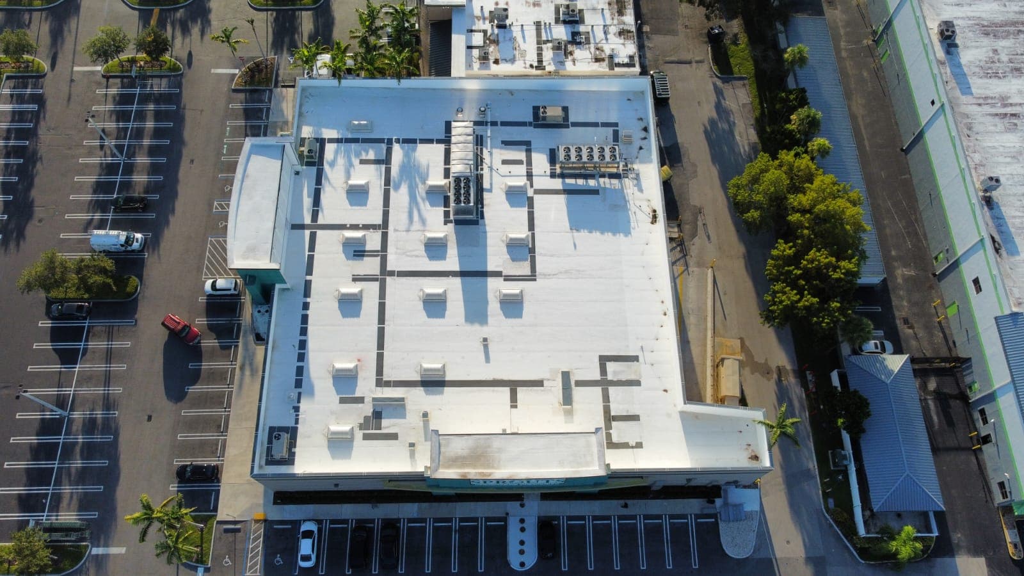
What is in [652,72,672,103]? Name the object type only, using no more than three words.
vehicle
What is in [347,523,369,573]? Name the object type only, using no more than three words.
car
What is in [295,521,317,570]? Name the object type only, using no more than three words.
car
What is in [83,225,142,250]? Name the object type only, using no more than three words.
vehicle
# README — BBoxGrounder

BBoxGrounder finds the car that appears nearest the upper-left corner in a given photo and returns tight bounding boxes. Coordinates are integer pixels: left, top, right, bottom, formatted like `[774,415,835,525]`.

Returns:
[106,191,149,211]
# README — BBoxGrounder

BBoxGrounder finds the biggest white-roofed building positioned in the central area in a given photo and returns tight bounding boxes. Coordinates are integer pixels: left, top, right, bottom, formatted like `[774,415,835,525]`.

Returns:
[227,78,772,496]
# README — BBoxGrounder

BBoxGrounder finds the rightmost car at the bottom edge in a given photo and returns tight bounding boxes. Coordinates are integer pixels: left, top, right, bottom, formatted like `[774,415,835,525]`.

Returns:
[537,516,559,566]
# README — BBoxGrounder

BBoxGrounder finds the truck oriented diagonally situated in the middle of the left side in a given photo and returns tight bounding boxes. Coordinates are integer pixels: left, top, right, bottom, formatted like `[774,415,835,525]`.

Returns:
[156,308,203,348]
